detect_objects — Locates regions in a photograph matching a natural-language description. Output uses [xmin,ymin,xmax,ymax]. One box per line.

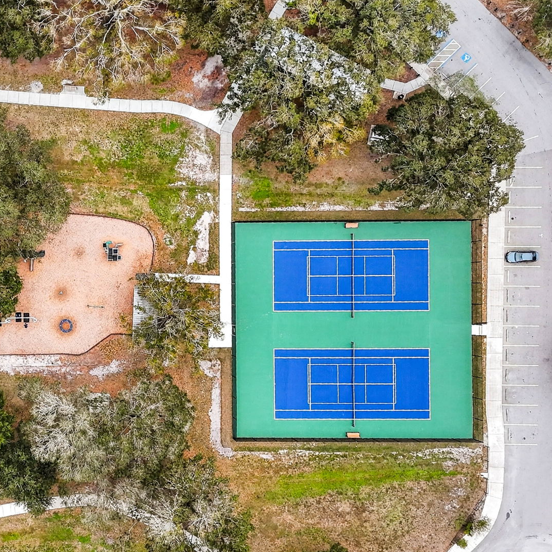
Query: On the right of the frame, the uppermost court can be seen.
[235,221,473,330]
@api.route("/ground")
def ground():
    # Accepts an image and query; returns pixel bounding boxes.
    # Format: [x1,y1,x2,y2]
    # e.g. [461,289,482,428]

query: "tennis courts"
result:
[236,330,474,439]
[235,221,473,330]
